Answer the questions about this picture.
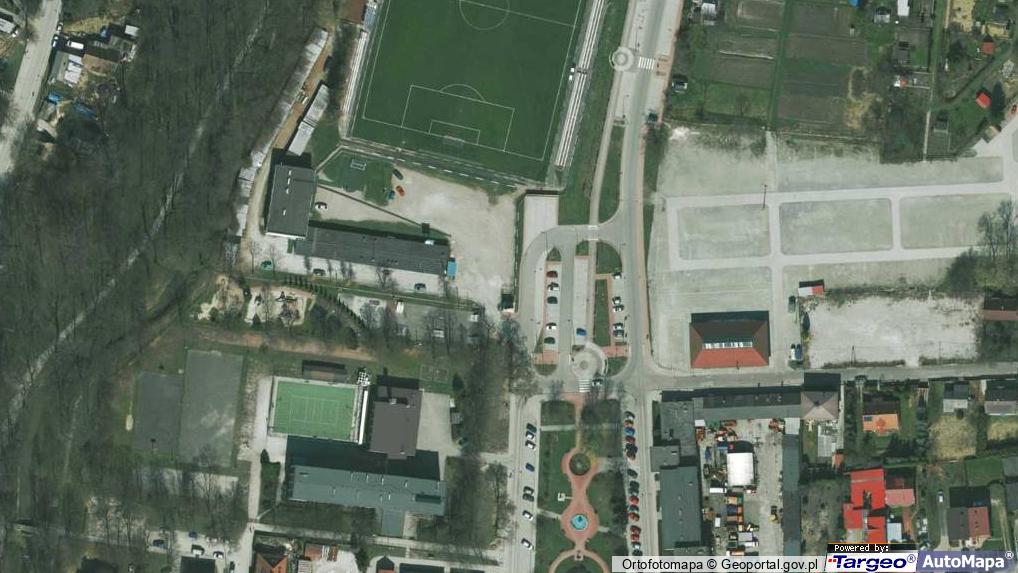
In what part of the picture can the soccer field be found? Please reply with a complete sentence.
You can find the soccer field in the top area of the picture.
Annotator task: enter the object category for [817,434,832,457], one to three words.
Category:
greenhouse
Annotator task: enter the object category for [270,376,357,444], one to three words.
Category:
sports court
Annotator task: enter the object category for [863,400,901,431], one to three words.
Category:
house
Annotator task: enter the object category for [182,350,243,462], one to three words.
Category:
sports court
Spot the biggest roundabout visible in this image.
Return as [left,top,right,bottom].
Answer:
[572,343,606,380]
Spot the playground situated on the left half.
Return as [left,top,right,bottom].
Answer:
[247,286,307,328]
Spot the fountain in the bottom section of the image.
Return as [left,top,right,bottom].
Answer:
[571,514,589,532]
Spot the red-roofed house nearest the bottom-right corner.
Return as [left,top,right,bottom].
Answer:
[968,507,990,539]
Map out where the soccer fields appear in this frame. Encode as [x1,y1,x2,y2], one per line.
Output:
[351,0,588,180]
